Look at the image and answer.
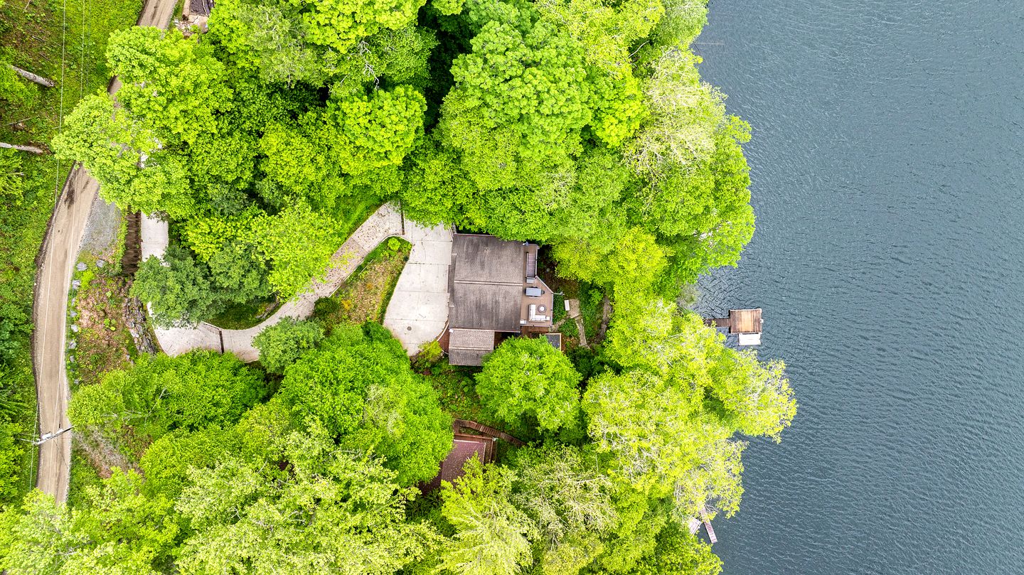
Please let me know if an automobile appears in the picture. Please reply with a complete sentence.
No, there's no automobile here.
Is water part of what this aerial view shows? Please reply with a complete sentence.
Yes, the picture does contain water.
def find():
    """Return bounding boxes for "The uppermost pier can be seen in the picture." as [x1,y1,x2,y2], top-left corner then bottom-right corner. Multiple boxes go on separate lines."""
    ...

[700,308,764,334]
